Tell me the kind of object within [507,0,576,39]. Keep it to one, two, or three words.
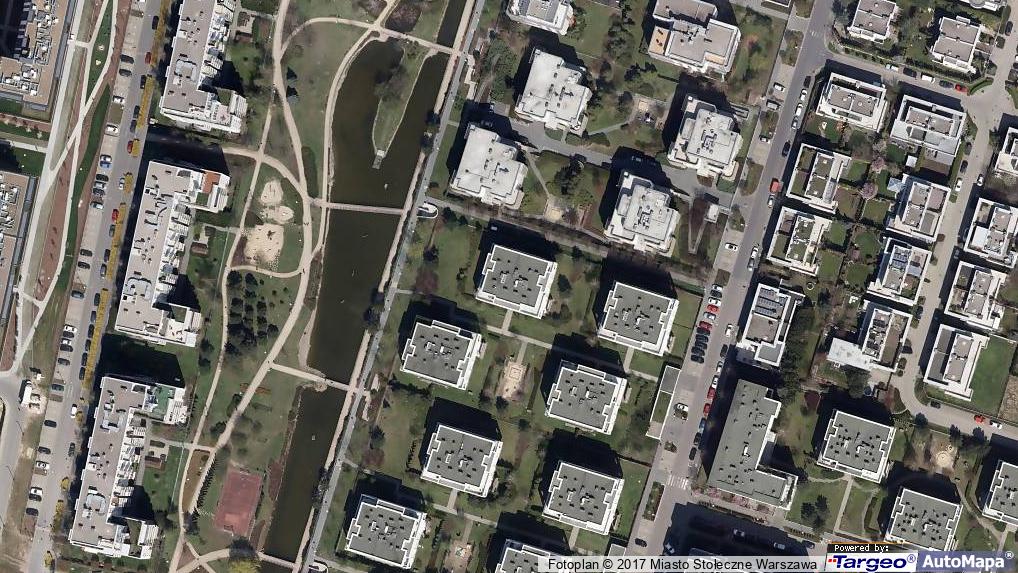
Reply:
building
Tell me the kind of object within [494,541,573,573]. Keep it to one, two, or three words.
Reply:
building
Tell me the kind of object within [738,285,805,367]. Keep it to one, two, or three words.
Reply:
house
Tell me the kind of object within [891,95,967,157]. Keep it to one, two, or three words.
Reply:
house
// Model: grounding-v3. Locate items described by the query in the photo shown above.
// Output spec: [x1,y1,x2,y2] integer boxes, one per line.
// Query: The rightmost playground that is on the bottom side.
[926,441,955,472]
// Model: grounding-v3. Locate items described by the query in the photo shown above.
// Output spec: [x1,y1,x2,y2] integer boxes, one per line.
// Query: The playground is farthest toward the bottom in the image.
[444,539,471,573]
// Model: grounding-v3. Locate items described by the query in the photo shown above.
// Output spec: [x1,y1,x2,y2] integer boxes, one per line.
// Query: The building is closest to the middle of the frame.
[477,247,559,319]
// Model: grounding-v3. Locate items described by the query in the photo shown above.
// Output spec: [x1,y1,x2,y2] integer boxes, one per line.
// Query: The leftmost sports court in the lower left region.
[215,470,264,540]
